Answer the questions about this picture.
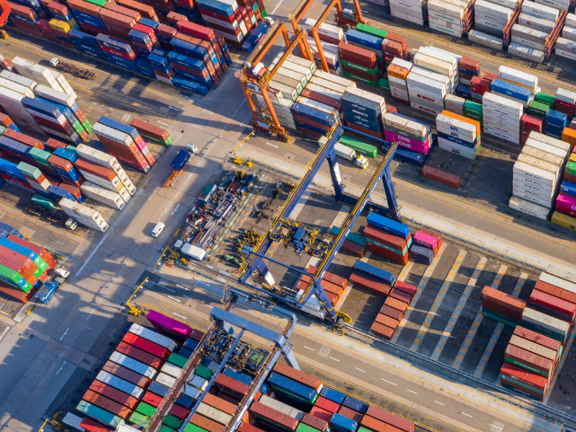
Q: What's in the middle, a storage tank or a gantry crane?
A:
gantry crane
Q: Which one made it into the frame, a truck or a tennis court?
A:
truck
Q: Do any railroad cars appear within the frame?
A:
No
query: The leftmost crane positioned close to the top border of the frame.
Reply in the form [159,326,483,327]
[230,15,319,136]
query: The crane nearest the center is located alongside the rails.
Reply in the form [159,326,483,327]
[229,116,409,323]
